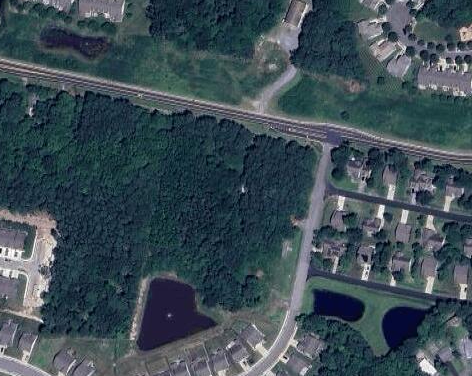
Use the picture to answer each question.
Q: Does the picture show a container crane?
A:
No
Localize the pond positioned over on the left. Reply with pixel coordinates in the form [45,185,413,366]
[138,277,216,350]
